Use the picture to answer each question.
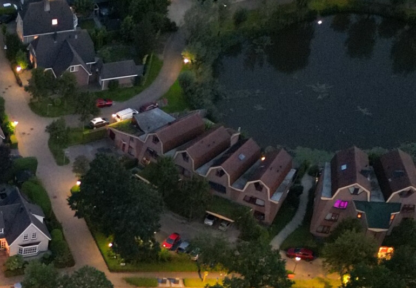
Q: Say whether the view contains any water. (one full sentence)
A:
Yes, water shows up in the scene.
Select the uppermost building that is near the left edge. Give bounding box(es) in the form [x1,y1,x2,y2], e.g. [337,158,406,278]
[9,0,76,48]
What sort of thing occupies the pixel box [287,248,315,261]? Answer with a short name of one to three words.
vehicle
